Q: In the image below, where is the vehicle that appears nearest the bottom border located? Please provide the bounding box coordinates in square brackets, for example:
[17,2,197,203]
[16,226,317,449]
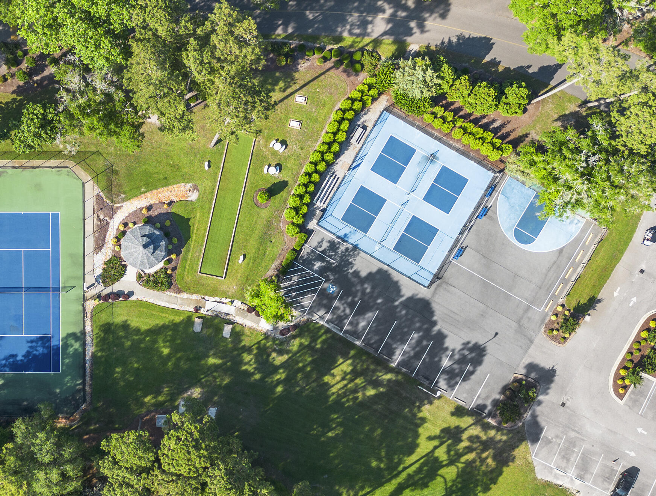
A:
[611,473,636,496]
